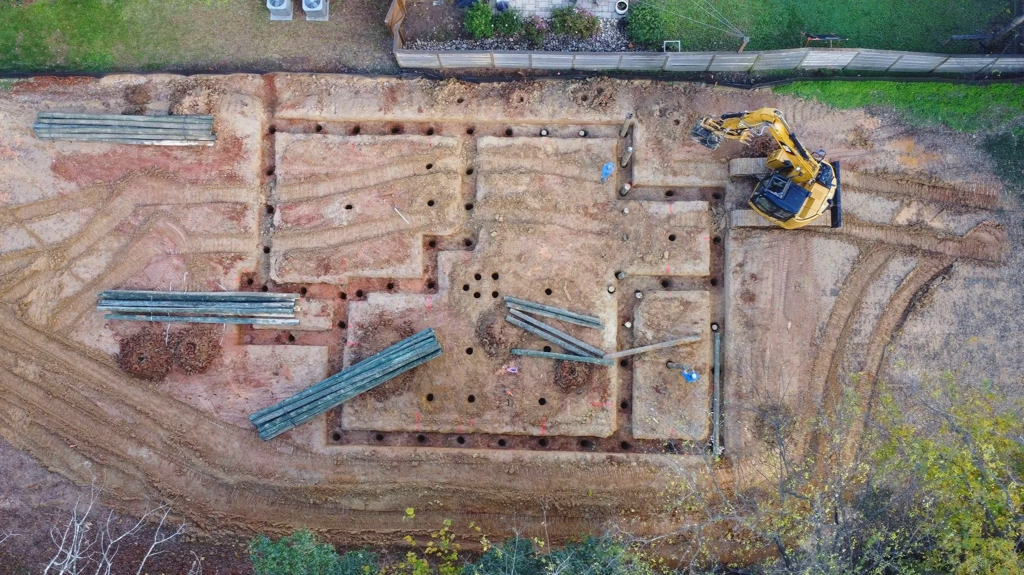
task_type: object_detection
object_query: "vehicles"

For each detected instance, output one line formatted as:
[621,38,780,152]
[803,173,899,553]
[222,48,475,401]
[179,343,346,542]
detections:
[693,95,845,234]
